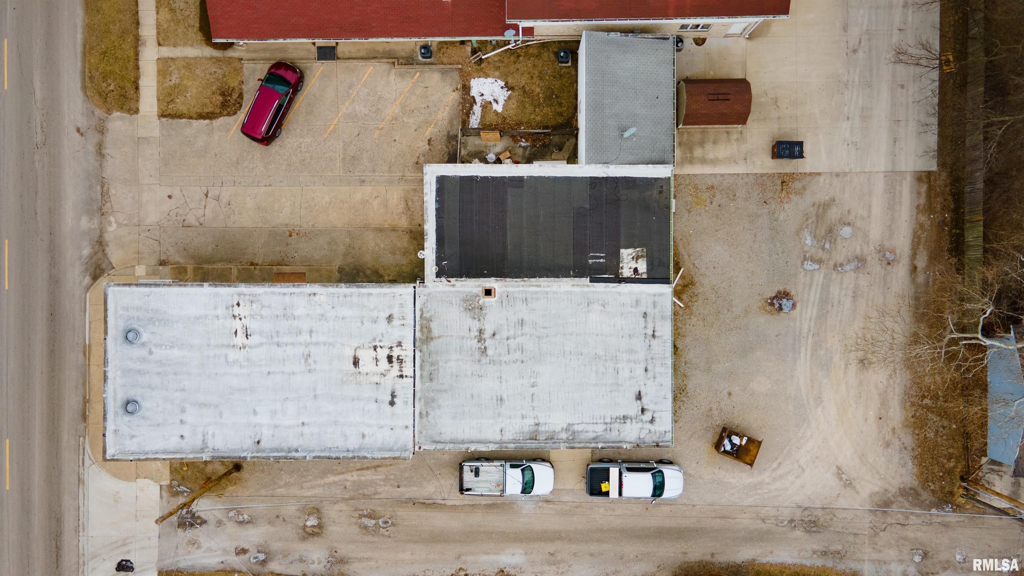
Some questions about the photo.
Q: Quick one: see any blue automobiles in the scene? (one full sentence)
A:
No, the scene contains no blue automobile.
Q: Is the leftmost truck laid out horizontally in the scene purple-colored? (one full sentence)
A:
No, from above the leftmost truck laid out horizontally looks white.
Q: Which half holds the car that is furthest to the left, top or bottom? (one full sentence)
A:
The top half of the photo is where the car that is furthest to the left is.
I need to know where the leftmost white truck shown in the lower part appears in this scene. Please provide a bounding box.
[457,458,554,500]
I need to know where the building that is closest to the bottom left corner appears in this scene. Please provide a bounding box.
[102,279,421,461]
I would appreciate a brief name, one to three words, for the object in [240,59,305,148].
car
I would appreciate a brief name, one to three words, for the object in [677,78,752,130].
shed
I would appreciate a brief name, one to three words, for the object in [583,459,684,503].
truck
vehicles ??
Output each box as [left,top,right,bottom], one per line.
[583,459,684,503]
[240,59,305,148]
[457,458,554,500]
